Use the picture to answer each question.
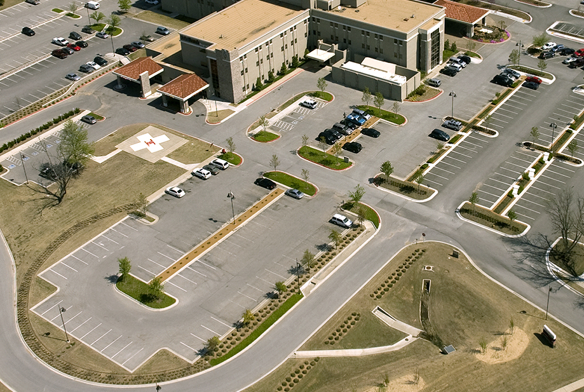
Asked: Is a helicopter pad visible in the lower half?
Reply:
No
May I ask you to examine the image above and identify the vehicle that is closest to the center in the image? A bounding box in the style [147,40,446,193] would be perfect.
[285,189,305,201]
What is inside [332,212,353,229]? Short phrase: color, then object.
white car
